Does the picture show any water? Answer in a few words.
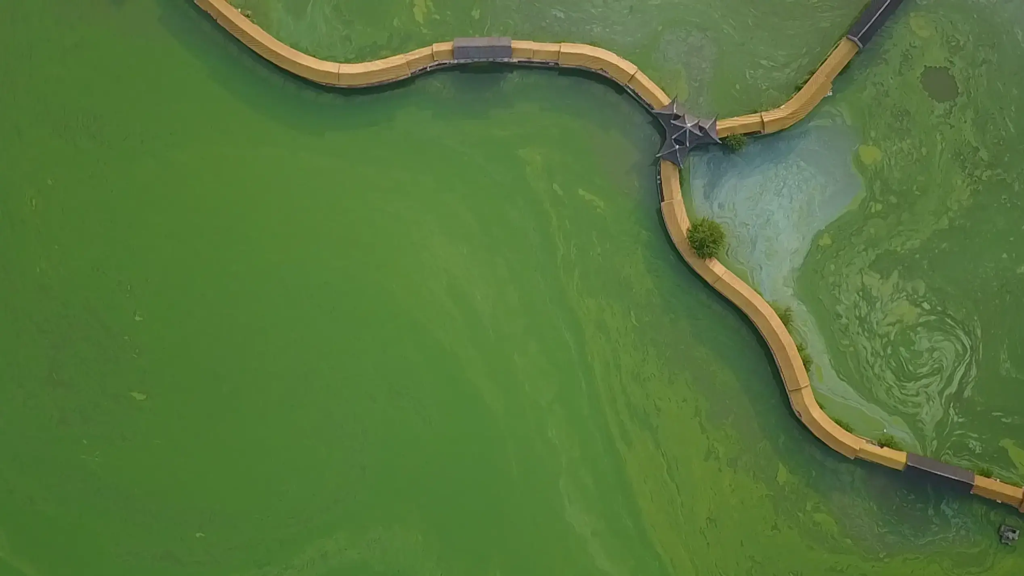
Yes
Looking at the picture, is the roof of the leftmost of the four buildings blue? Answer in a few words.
No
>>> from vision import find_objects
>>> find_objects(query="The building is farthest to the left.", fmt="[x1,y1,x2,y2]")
[454,36,512,69]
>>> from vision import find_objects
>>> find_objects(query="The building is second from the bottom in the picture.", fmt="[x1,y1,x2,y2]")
[651,92,724,169]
